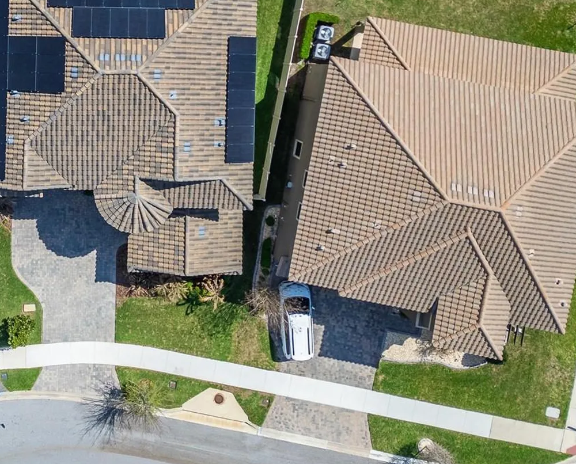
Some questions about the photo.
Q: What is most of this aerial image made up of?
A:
buildings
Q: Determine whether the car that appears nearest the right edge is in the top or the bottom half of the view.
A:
bottom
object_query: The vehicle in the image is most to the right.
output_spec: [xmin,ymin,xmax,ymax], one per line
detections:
[277,278,319,365]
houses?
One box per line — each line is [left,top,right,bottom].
[0,0,257,277]
[274,16,576,363]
